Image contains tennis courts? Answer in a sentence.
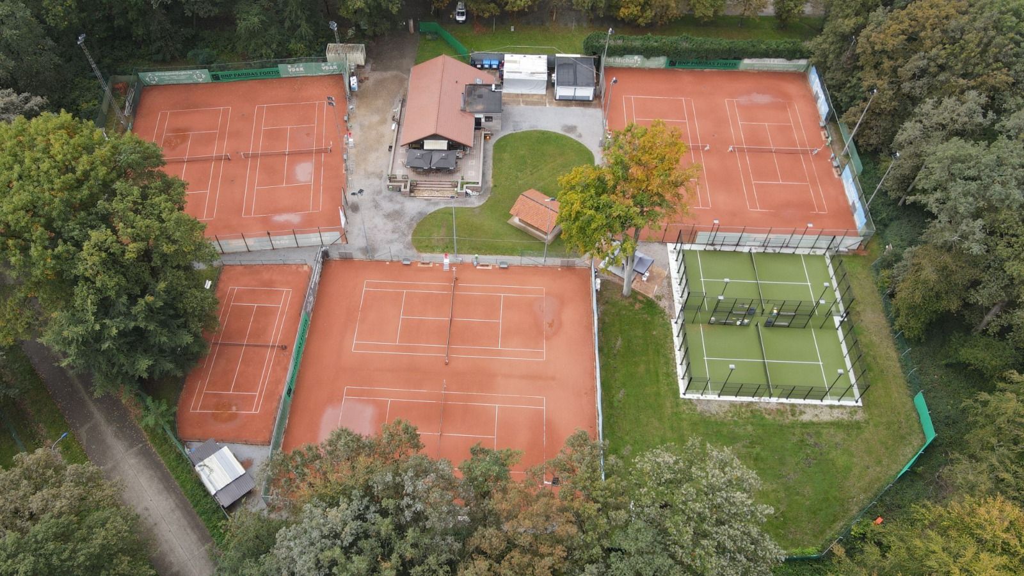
Yes, this view includes a tennis court.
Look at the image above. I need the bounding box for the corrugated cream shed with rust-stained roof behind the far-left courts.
[324,38,367,67]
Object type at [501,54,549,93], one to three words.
tent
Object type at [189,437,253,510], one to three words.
shed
